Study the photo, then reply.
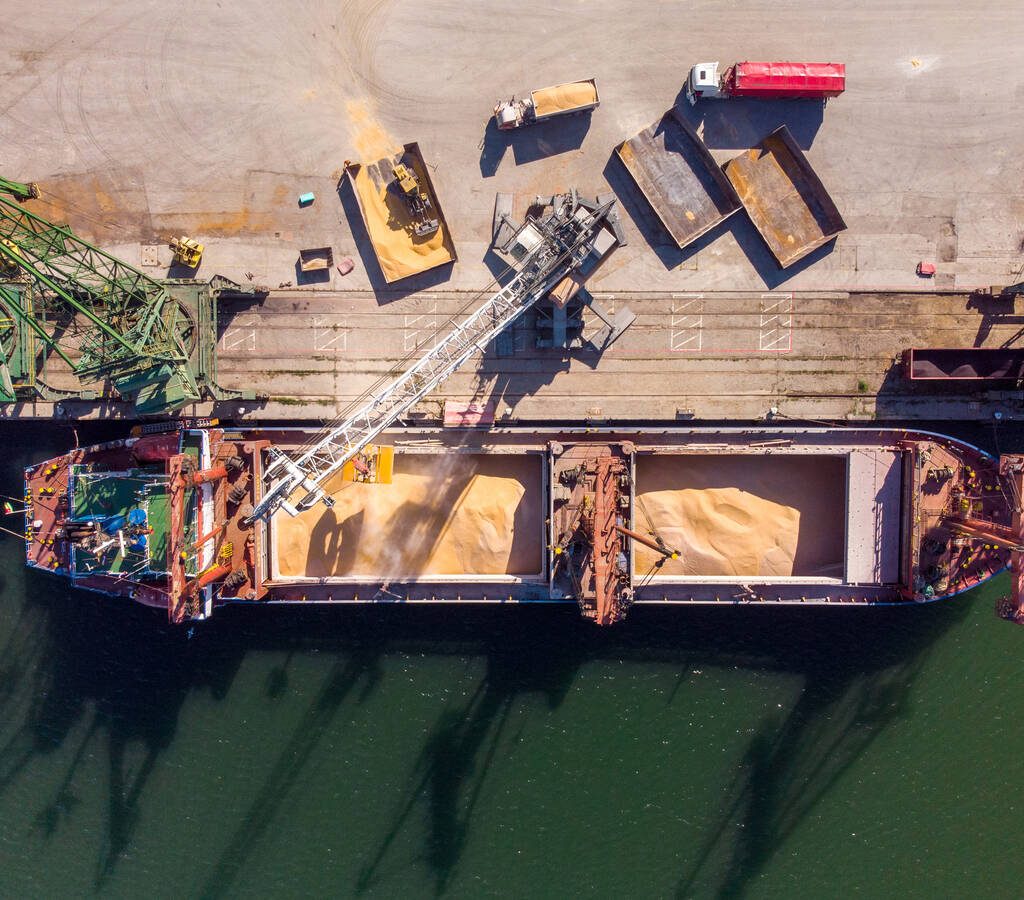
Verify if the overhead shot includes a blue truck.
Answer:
No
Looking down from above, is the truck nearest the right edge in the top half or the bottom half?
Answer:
top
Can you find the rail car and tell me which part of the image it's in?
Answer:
right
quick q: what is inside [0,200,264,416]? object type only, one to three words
crane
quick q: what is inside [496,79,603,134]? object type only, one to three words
truck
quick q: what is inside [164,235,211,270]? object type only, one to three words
work vehicle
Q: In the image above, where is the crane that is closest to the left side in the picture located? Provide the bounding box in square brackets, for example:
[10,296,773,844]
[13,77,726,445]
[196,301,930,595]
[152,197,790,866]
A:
[0,278,98,420]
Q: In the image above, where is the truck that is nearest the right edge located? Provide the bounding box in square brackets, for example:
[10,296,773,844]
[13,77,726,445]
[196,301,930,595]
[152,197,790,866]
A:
[683,61,846,102]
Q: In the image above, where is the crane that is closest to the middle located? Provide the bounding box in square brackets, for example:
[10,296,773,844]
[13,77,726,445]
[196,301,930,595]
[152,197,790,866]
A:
[244,161,636,527]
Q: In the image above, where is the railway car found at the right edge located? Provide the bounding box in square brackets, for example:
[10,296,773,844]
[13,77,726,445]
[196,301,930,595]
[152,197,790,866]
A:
[891,347,1024,382]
